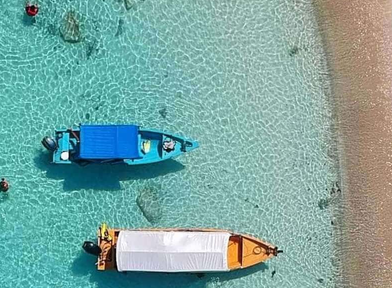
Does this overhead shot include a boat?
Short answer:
Yes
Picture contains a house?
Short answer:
No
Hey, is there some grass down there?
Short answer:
No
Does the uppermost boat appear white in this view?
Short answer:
No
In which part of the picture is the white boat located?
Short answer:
bottom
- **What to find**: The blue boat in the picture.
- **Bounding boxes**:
[40,126,199,164]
